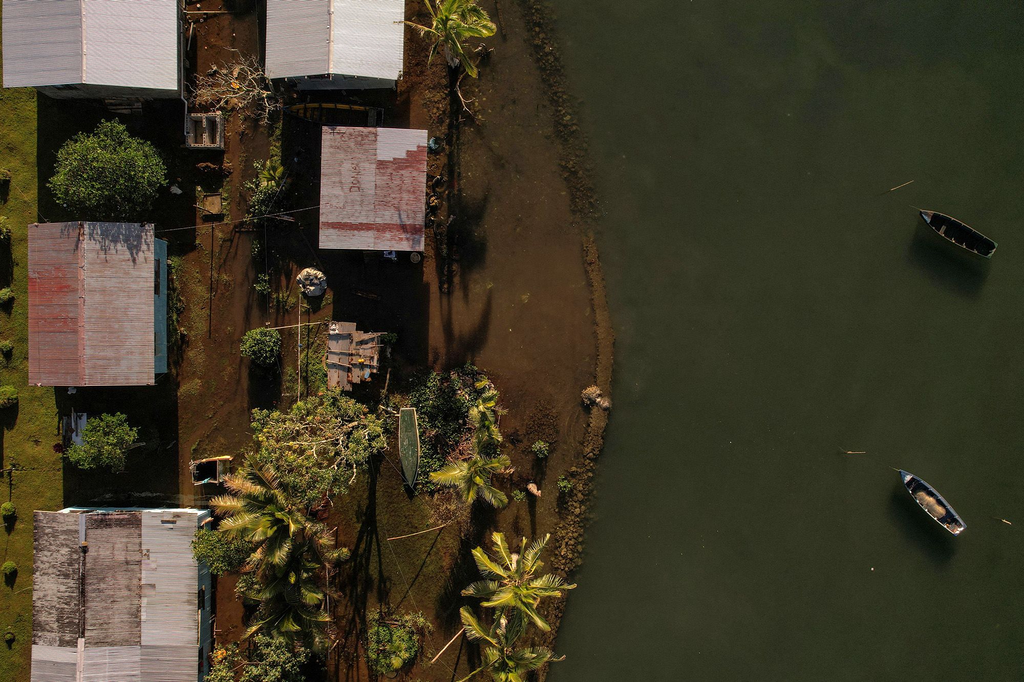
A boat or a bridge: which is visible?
boat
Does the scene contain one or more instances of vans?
No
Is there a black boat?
Yes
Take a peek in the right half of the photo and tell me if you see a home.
No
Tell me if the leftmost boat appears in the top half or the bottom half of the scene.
top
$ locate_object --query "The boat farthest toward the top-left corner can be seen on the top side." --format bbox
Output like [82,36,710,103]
[284,99,385,128]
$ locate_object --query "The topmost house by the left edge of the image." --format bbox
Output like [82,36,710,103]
[3,0,194,136]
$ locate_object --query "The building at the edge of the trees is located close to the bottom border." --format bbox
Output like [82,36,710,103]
[32,507,209,682]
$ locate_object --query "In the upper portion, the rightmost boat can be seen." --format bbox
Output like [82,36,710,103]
[915,209,998,258]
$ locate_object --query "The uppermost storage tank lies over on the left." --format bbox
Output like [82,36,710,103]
[185,113,228,150]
